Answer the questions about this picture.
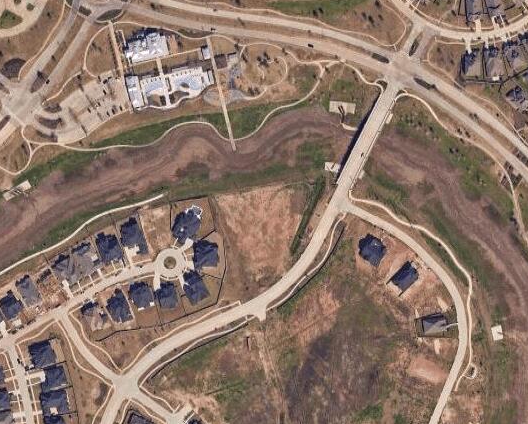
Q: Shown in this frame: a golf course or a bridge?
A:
bridge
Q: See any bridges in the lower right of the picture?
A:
No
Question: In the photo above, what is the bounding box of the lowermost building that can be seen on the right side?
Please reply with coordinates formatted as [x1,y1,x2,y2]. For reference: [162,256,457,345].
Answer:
[421,312,450,337]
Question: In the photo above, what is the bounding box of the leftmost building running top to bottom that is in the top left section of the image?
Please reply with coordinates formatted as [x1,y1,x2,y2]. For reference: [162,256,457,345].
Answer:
[126,77,142,108]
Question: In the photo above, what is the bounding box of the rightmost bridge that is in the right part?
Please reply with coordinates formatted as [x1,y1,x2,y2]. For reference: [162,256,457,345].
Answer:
[339,90,398,200]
